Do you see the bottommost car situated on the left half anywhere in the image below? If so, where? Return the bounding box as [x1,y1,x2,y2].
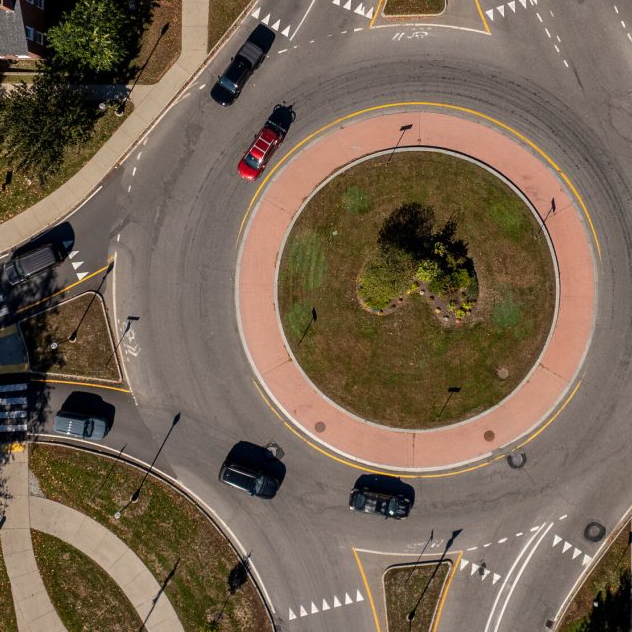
[218,461,279,498]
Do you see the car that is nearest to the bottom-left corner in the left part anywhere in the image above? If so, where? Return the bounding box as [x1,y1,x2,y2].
[53,411,111,443]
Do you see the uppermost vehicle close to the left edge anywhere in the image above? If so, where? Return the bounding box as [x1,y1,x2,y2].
[6,243,70,285]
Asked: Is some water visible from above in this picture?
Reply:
No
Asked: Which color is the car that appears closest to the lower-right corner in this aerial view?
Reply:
black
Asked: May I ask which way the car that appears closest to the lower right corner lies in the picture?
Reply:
horizontally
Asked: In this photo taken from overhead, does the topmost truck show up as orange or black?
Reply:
black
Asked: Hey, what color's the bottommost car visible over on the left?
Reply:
black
